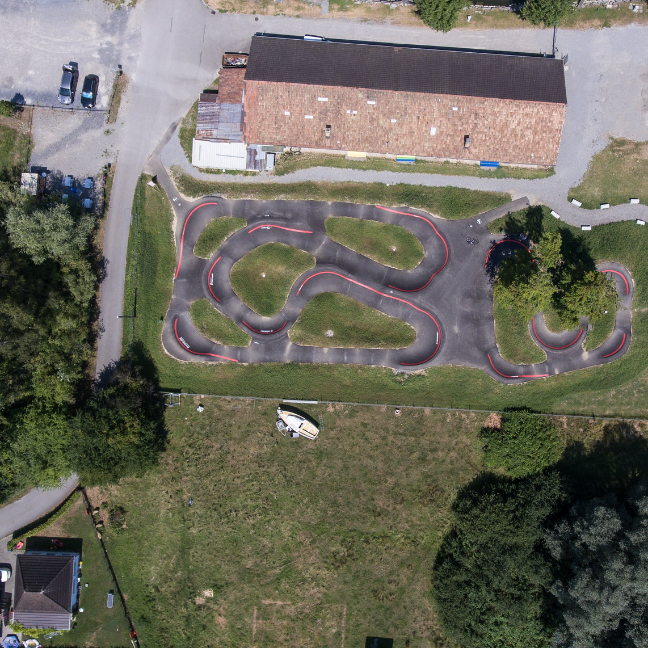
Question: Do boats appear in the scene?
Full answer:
Yes, a boat appears in the view.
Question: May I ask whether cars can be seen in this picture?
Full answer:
Yes, a car appears in the view.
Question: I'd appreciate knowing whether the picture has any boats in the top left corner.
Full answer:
No, there's no boat to be seen in the top left corner.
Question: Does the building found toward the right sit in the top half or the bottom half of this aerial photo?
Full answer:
It is in the top half that the building found toward the right appears.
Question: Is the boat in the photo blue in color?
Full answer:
No, from above the boat looks white.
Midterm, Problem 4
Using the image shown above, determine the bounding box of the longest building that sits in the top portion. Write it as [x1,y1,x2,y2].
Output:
[242,35,571,168]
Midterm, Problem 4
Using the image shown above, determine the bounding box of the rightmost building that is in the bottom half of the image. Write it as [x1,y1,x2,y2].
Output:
[12,550,79,633]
